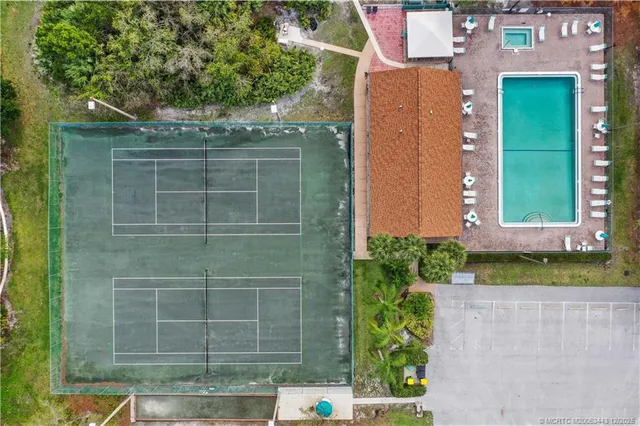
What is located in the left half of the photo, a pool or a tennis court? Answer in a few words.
tennis court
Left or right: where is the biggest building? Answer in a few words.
right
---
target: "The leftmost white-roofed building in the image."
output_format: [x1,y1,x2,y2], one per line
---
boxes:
[404,11,454,63]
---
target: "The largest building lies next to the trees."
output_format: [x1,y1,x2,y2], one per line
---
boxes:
[369,66,464,238]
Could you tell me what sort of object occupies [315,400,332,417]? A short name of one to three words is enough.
umbrella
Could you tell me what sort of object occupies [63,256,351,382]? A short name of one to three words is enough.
tennis court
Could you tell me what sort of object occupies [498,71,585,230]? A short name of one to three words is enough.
swimming pool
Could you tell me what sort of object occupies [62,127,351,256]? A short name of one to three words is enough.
tennis court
